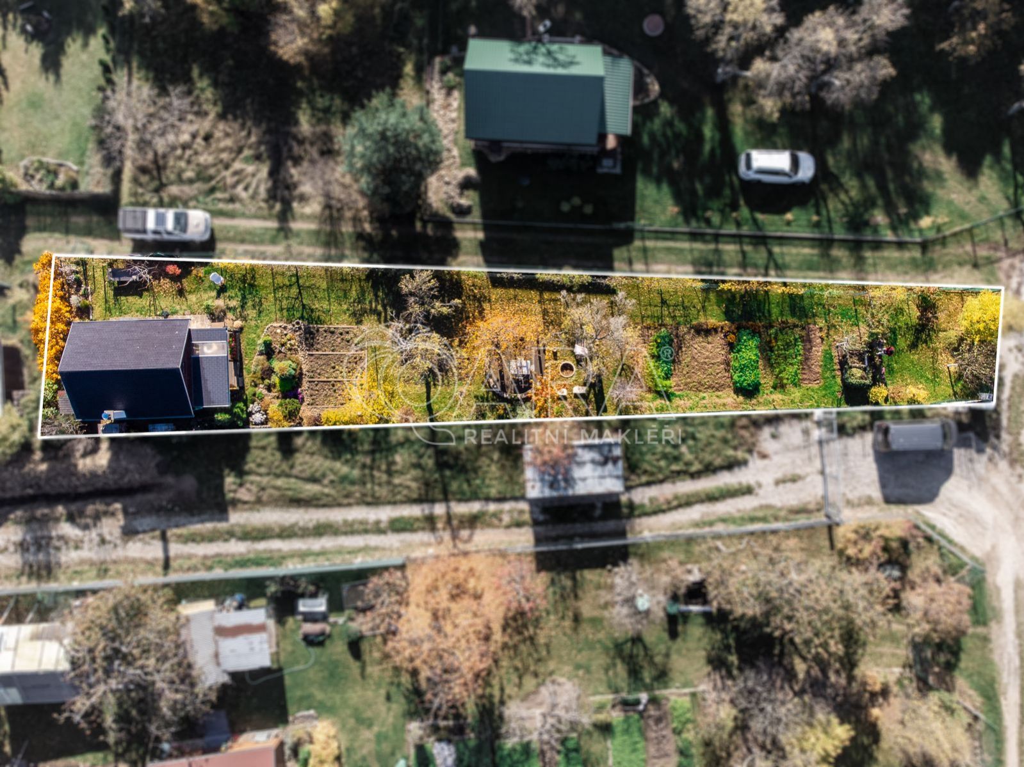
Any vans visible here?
Yes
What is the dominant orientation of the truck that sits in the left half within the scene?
from left to right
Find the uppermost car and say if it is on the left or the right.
right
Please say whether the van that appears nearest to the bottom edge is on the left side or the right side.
right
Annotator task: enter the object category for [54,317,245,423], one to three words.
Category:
house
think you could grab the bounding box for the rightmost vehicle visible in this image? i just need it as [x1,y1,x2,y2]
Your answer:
[871,417,957,455]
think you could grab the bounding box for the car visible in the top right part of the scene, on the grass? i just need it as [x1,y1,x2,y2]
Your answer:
[736,148,814,188]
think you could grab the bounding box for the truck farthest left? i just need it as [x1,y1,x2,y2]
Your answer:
[116,205,214,244]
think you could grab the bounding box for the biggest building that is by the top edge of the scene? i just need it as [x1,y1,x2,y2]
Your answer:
[464,37,636,159]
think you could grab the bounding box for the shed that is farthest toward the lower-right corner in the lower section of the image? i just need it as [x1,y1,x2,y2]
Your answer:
[523,438,625,500]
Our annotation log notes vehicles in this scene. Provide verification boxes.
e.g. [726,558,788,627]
[871,417,957,455]
[736,148,814,188]
[116,205,214,244]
